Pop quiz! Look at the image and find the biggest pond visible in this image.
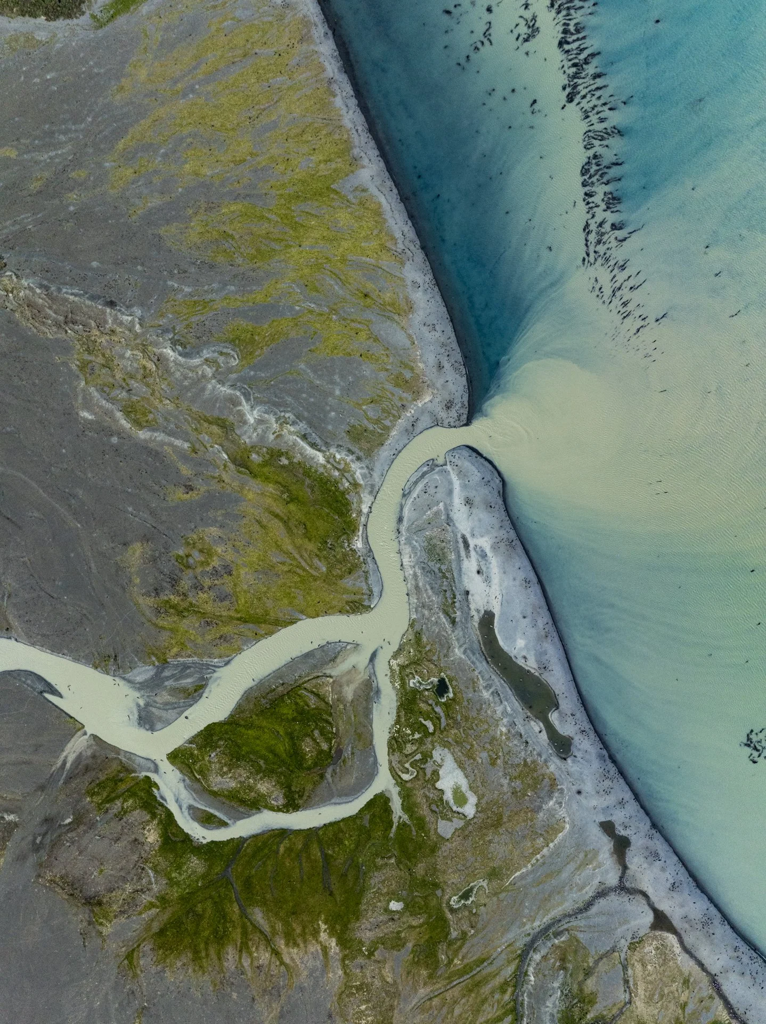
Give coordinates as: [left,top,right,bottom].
[478,610,573,757]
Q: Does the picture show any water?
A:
Yes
